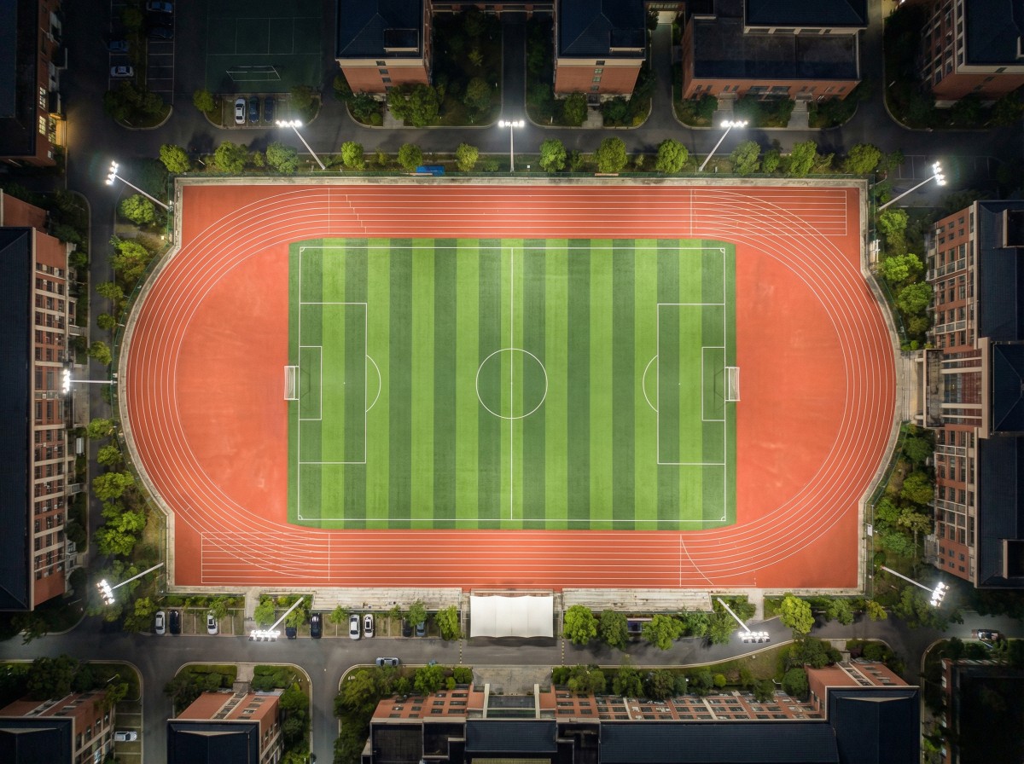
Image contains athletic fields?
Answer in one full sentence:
Yes, the picture does show an athletic field.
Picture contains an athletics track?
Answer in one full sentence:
Yes, I can see an athletics track in this picture.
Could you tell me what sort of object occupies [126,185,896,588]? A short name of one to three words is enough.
running track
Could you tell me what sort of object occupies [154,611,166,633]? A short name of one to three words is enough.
vehicle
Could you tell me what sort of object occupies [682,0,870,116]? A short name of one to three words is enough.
building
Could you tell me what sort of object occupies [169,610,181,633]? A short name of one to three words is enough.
vehicle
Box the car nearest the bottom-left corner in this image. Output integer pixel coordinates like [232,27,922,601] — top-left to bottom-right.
[116,730,137,742]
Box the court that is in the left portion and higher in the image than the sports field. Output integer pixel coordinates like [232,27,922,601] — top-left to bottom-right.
[205,0,323,92]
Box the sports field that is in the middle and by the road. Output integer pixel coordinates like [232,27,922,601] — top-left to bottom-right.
[287,238,736,530]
